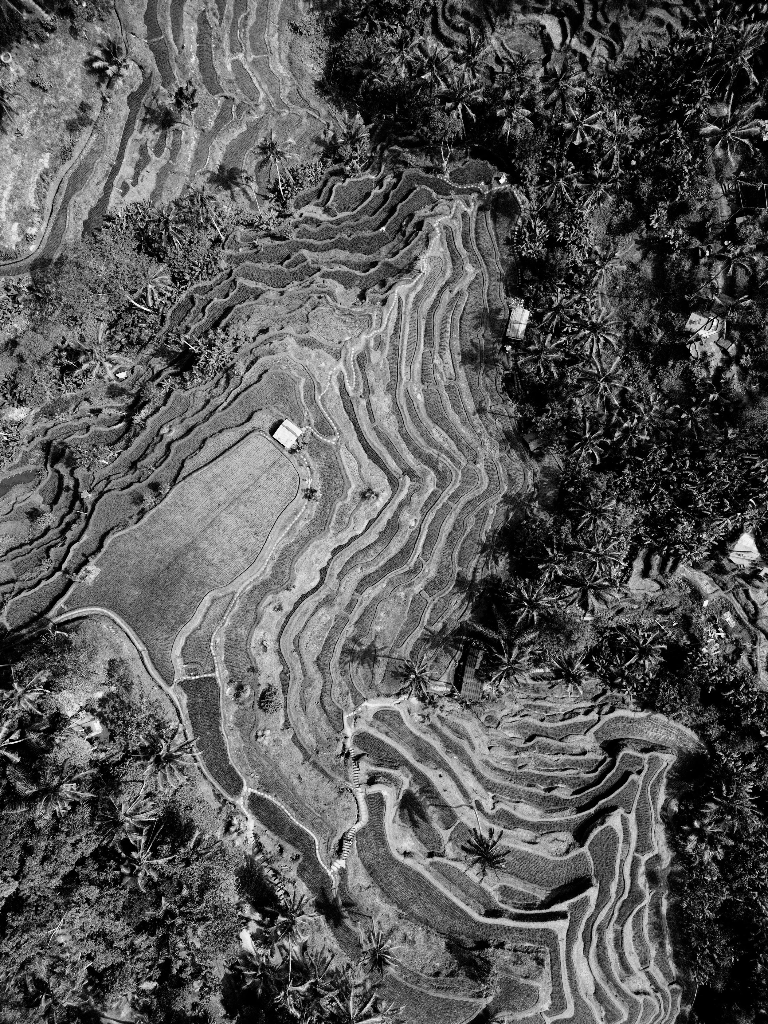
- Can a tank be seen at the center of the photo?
No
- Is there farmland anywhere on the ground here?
Yes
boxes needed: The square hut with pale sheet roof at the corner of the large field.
[273,419,303,448]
